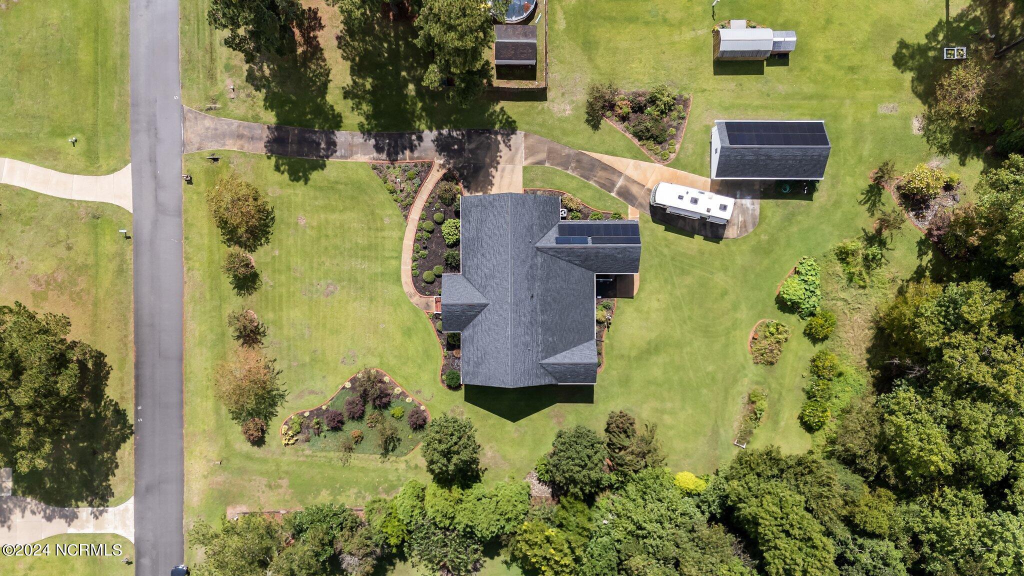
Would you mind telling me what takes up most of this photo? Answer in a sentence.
The largest share of the image is taken up by grass.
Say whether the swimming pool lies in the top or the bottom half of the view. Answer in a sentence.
You can find the swimming pool in the top half.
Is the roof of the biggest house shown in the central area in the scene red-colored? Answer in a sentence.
No, the roof of the biggest house shown in the central area is actually gray.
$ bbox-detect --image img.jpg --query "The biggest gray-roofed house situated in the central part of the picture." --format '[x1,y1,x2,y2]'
[434,193,641,388]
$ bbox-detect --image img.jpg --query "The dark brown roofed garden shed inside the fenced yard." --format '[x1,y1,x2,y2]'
[495,24,537,67]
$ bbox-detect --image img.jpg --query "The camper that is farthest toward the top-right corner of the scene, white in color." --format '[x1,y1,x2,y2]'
[646,179,735,225]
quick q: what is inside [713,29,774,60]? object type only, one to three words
barn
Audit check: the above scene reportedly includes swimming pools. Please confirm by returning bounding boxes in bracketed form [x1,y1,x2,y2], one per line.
[490,0,537,22]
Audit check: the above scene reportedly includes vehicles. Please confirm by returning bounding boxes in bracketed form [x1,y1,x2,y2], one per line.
[646,179,735,225]
[172,567,190,576]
